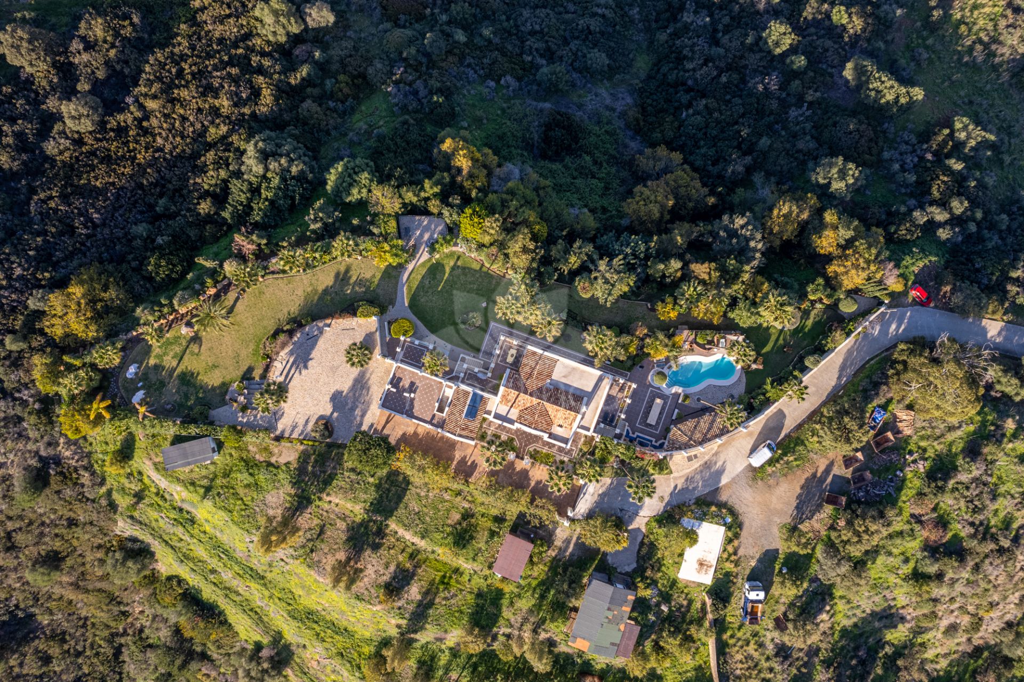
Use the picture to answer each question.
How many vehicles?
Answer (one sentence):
The number of vehicles here is 3.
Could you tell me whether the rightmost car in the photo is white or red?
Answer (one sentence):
The rightmost car is red.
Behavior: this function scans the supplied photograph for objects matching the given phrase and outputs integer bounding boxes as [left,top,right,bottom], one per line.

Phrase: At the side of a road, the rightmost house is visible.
[665,410,736,451]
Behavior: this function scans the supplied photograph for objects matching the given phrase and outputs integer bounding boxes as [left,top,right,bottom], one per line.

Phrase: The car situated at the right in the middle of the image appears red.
[906,283,932,307]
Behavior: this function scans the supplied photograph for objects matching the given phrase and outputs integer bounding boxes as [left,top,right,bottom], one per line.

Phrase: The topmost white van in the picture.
[747,439,778,468]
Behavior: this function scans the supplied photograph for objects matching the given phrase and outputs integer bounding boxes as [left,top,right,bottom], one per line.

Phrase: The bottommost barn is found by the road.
[568,571,641,658]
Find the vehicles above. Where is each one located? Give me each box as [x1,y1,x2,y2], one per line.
[744,580,765,624]
[747,439,778,468]
[906,283,932,307]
